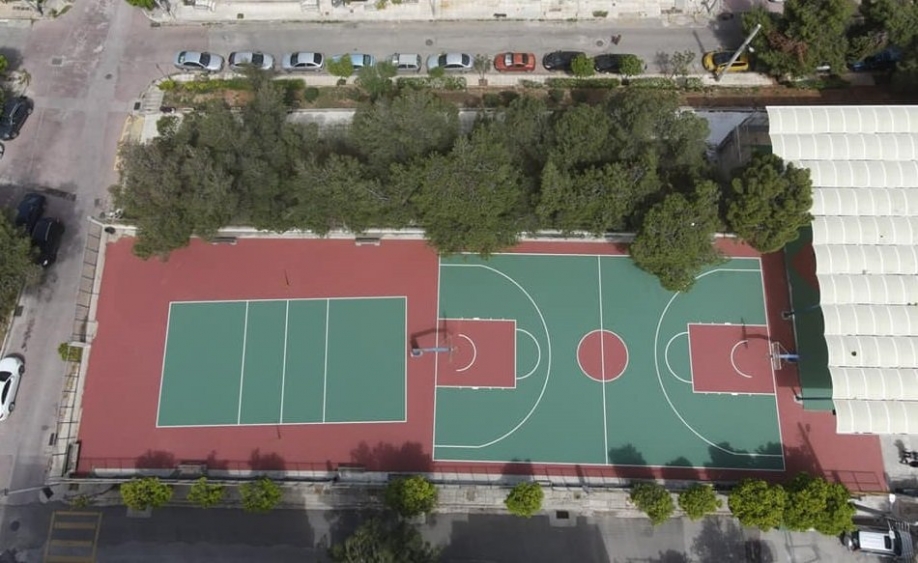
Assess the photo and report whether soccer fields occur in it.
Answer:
No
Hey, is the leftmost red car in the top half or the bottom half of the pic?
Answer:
top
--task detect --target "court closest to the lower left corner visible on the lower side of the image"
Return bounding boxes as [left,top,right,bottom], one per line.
[156,297,407,427]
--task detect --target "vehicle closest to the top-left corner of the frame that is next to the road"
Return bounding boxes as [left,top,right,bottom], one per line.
[0,98,36,143]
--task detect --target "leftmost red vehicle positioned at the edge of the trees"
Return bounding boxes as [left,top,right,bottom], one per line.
[493,53,535,74]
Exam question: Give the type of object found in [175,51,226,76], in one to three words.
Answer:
car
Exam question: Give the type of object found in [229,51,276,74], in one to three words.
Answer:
car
